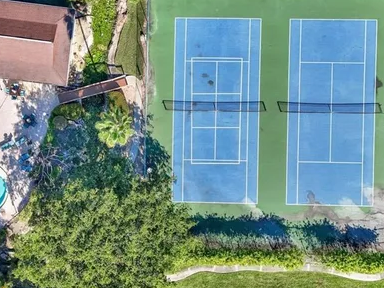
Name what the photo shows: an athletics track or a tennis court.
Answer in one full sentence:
I can see a tennis court in this picture.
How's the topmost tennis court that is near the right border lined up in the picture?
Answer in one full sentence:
From this overhead view, the topmost tennis court that is near the right border appears to run up and down.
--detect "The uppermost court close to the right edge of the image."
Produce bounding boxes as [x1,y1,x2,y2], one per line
[287,19,376,206]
